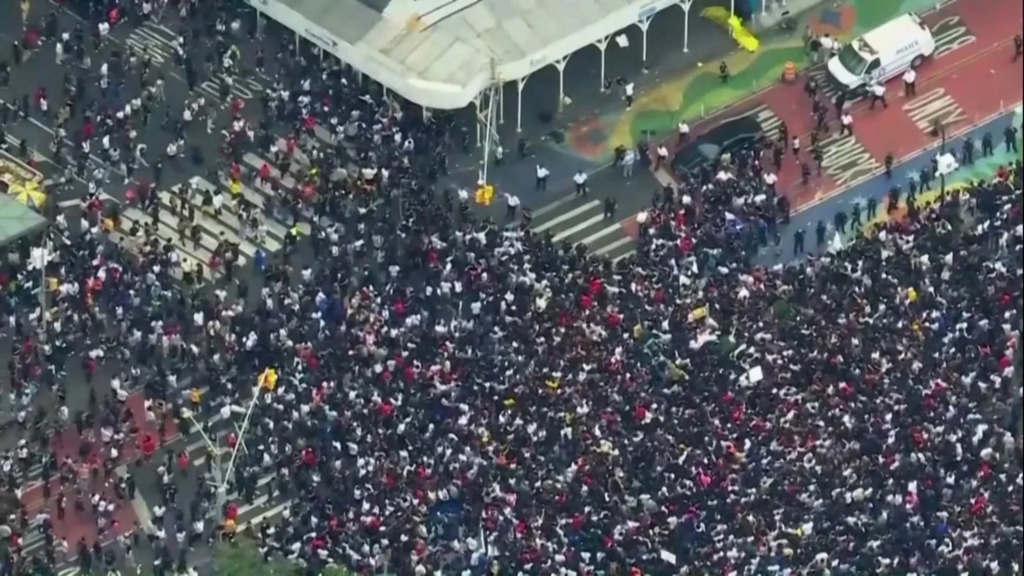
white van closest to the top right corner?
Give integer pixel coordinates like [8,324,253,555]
[831,9,939,88]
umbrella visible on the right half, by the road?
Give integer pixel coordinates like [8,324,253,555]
[700,7,766,52]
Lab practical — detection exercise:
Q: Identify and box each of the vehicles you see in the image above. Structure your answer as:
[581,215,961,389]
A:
[831,9,939,88]
[669,114,769,173]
